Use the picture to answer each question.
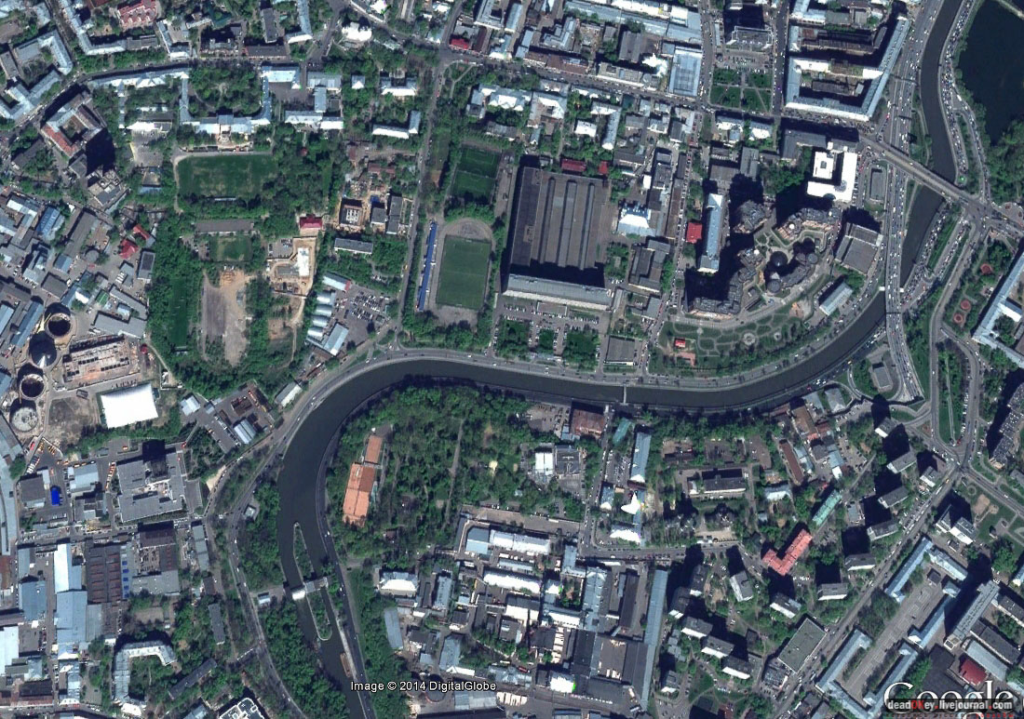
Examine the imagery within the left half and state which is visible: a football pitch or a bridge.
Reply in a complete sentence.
You can see a football pitch within the left half.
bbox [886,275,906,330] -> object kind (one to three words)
bridge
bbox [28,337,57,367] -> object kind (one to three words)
storage tank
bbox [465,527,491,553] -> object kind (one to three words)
building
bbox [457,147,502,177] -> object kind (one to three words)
soccer field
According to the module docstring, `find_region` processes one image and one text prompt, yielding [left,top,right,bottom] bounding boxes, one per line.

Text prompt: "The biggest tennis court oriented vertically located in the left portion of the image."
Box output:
[343,461,375,526]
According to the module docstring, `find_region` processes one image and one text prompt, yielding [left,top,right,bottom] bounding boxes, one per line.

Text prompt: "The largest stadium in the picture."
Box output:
[433,217,496,325]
